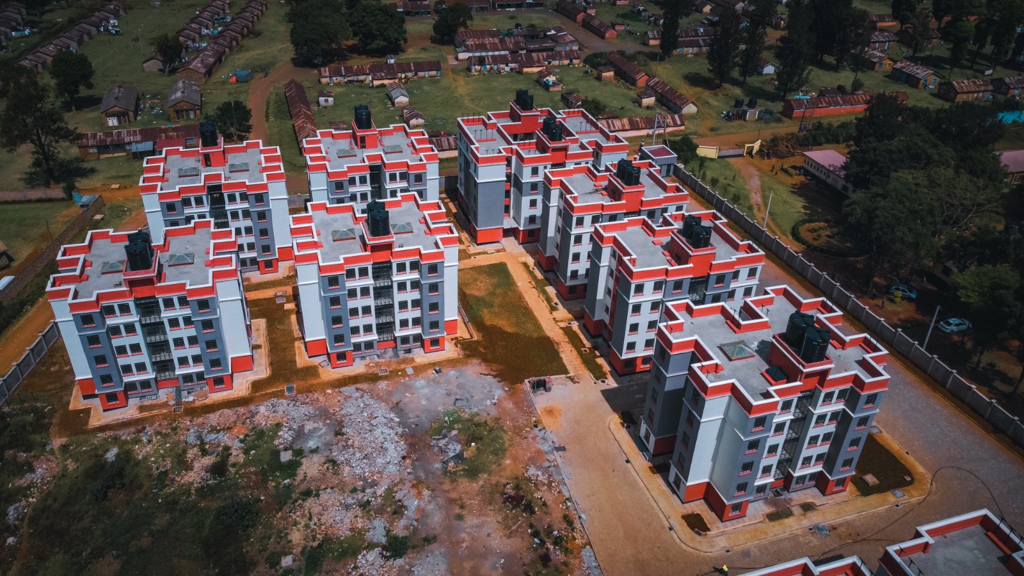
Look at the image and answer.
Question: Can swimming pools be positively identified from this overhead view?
No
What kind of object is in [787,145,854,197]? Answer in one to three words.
building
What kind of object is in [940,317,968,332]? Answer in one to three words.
car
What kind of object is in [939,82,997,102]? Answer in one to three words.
house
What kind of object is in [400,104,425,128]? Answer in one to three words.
shed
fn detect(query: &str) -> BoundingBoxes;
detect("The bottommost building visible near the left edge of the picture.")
[46,218,255,411]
